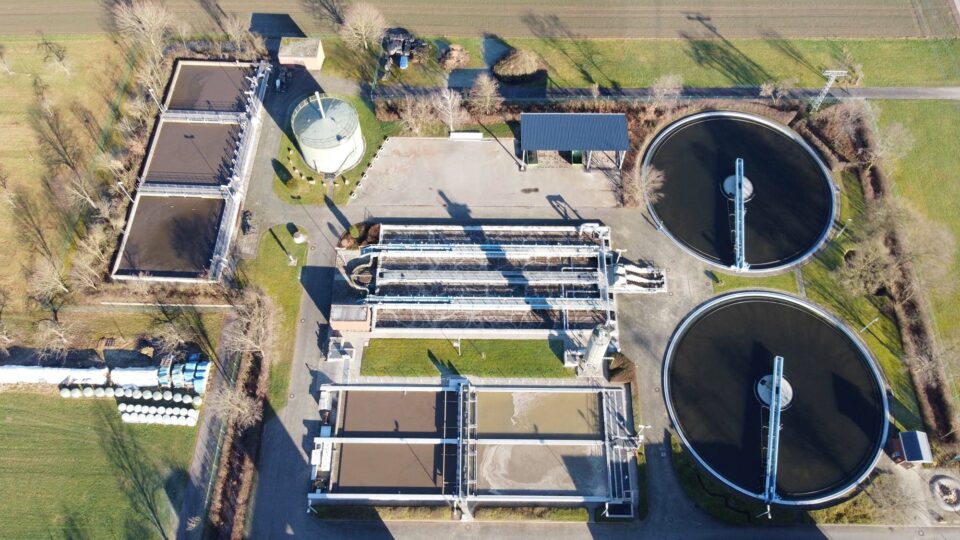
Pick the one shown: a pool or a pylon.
pylon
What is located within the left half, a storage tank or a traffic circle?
storage tank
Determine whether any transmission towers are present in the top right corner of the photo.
Yes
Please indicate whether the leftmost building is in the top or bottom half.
top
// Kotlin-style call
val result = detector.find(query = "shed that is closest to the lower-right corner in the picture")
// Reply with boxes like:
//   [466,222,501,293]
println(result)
[891,429,932,465]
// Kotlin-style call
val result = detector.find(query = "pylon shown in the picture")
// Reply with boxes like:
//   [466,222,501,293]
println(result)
[802,69,855,124]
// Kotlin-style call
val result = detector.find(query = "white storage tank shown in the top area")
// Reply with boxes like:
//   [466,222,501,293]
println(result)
[290,89,368,181]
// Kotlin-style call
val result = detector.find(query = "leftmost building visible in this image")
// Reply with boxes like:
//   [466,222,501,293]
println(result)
[278,38,324,78]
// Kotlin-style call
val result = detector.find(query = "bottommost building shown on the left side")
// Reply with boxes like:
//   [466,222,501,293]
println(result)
[328,305,368,331]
